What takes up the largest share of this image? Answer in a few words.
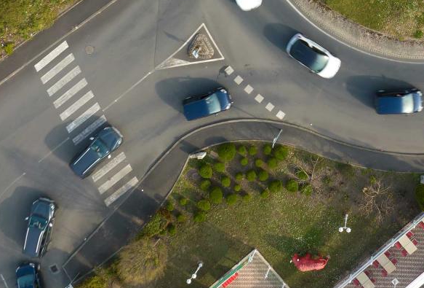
paved ground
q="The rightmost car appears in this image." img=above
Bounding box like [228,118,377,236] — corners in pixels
[373,87,424,116]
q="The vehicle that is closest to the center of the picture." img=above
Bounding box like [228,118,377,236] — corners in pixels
[180,85,233,124]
